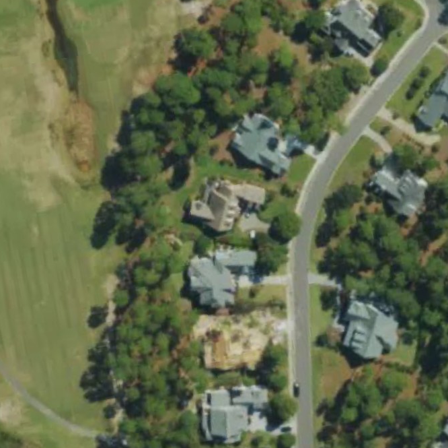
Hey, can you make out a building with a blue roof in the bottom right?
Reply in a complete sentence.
No, no building with a blue roof appears in the bottom right.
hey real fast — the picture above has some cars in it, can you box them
[293,383,299,395]
[280,426,292,432]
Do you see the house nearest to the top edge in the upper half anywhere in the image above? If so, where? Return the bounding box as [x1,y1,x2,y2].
[323,0,388,60]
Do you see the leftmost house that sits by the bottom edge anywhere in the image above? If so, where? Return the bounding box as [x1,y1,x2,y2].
[202,384,269,443]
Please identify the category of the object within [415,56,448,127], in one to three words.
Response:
house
